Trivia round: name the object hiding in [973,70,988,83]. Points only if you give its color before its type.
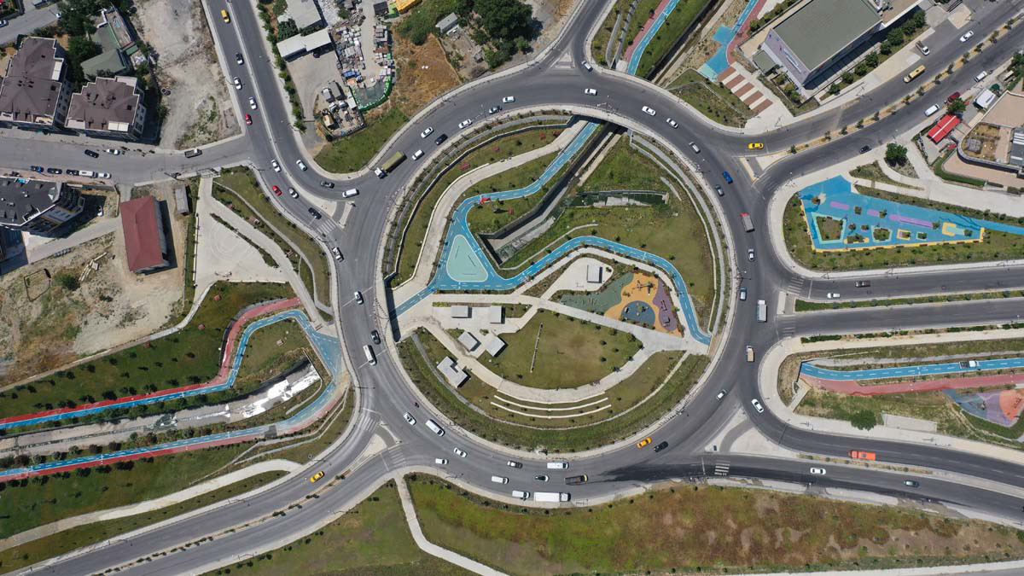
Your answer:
white vehicle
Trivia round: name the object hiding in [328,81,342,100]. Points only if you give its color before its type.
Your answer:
gray vehicle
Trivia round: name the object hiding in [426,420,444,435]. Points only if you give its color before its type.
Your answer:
white vehicle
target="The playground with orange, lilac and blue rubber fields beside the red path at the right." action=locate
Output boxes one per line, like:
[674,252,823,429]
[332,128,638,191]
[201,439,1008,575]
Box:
[942,388,1024,427]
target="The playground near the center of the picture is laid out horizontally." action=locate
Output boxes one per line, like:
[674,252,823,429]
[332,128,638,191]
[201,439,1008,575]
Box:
[559,273,681,336]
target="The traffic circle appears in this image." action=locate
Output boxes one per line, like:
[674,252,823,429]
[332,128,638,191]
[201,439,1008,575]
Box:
[309,50,812,497]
